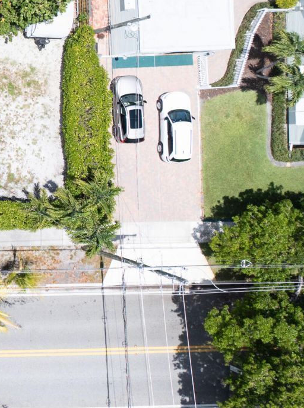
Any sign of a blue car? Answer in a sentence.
No, there is no blue car in the image.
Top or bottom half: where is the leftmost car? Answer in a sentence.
The leftmost car is in the top half of the image.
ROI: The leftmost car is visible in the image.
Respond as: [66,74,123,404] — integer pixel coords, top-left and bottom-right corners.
[109,74,146,143]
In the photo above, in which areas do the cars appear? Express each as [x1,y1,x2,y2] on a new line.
[109,74,146,143]
[155,92,194,161]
